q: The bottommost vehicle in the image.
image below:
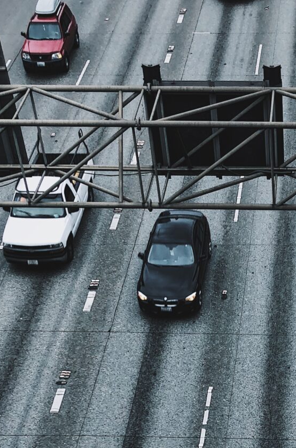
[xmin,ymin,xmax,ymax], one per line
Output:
[137,214,215,321]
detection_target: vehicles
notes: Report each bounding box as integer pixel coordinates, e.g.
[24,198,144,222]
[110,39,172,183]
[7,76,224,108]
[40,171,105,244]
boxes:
[137,214,215,321]
[2,130,91,267]
[18,2,80,71]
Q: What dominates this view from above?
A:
paved ground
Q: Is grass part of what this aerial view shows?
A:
No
